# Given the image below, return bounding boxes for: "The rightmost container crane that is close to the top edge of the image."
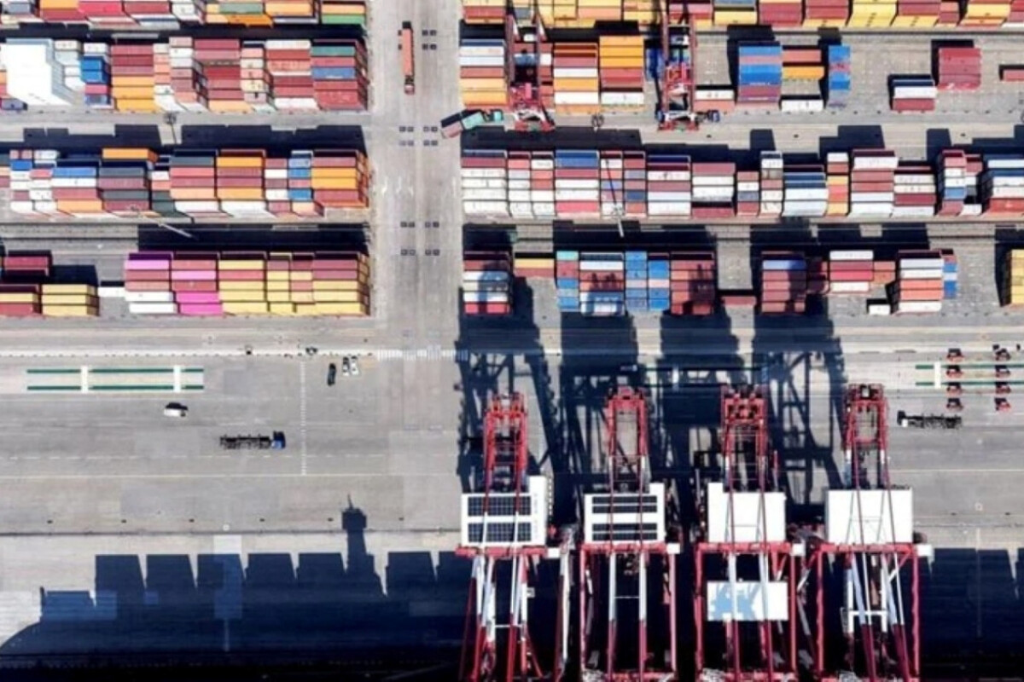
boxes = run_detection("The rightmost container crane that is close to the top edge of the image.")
[654,7,702,127]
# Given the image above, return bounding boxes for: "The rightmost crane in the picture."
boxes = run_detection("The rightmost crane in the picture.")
[780,381,923,682]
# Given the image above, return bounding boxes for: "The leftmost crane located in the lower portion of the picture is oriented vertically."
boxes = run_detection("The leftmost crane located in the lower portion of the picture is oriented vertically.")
[447,391,585,682]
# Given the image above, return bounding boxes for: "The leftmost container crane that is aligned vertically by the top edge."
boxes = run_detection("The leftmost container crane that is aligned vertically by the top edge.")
[507,8,558,128]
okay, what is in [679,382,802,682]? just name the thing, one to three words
container crane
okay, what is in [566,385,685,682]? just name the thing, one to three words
container crane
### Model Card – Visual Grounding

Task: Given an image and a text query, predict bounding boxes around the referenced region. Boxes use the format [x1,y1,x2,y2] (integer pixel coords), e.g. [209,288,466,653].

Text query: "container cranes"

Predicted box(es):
[679,382,802,682]
[447,391,585,682]
[507,8,558,128]
[780,381,923,682]
[654,7,702,127]
[566,385,685,682]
